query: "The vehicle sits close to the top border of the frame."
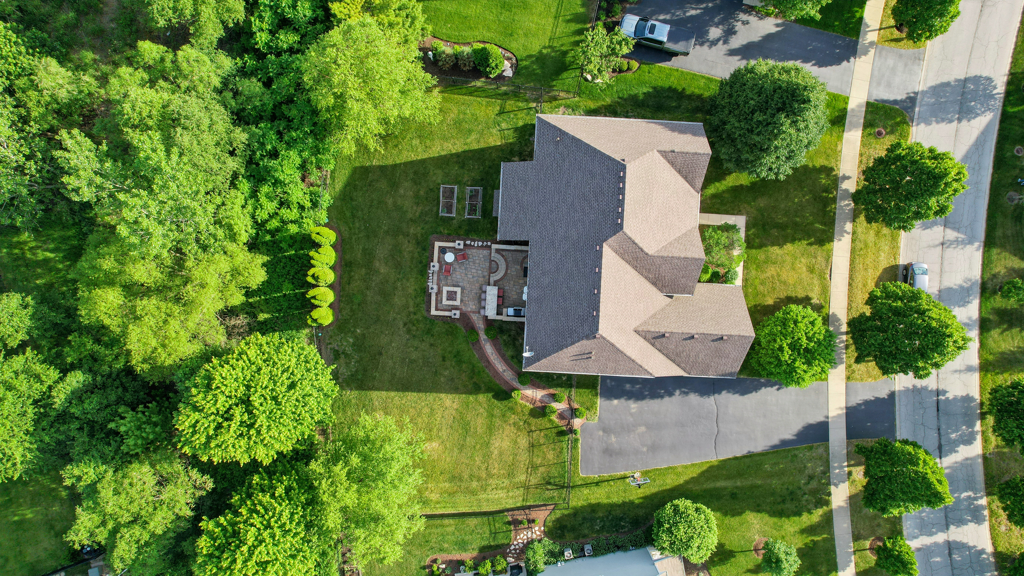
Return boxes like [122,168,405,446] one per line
[621,13,693,56]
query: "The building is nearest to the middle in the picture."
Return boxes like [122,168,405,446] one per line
[493,113,755,380]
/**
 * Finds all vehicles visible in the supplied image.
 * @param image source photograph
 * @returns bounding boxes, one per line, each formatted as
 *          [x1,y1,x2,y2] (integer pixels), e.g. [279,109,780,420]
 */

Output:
[903,262,930,303]
[621,13,693,56]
